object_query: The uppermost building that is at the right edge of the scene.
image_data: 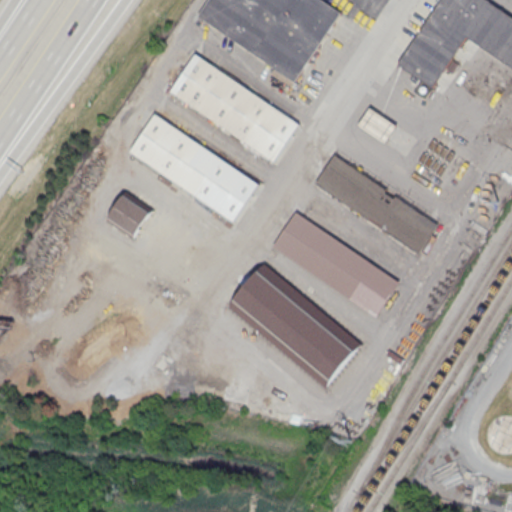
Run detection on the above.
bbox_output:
[398,0,512,88]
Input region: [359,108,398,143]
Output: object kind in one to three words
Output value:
building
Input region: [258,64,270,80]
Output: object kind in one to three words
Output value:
vehicle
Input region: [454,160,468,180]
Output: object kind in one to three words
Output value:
vehicle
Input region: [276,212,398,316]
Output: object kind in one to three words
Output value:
building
